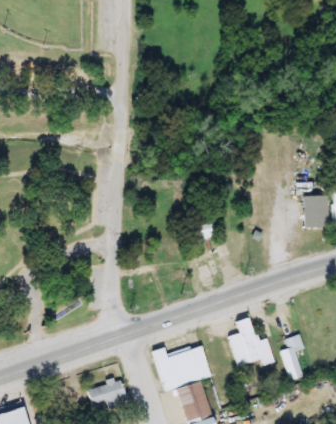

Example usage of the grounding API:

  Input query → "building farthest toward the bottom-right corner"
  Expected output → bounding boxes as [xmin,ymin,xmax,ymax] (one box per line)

[279,334,304,381]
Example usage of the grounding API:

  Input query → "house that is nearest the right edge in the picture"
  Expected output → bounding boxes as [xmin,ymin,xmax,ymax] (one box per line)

[302,196,328,228]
